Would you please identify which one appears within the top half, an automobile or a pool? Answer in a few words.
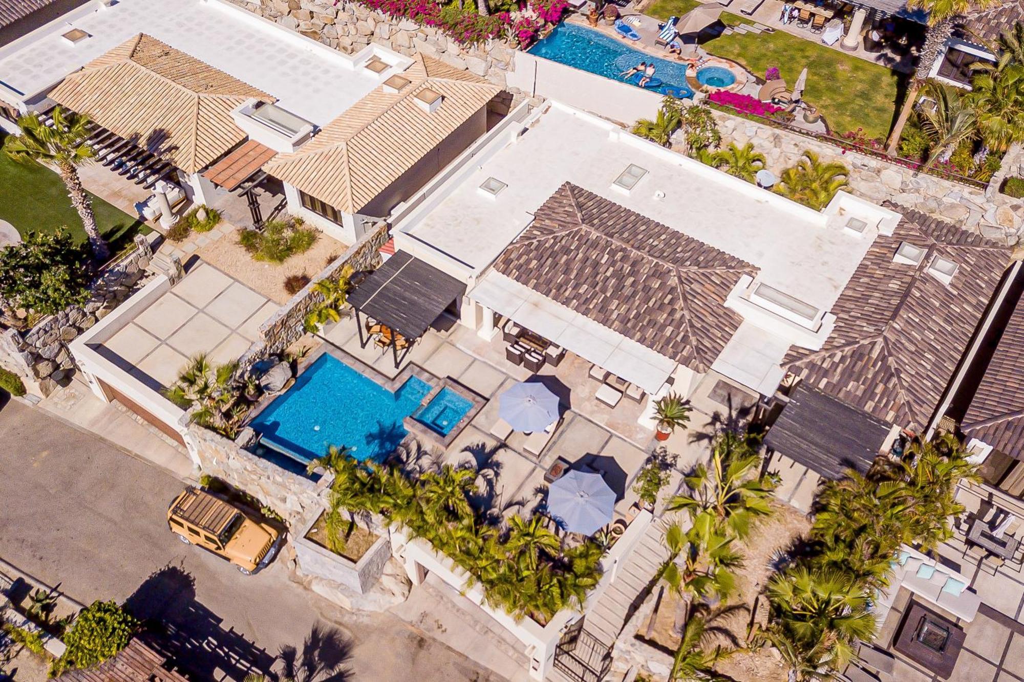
pool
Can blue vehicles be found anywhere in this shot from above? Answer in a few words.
No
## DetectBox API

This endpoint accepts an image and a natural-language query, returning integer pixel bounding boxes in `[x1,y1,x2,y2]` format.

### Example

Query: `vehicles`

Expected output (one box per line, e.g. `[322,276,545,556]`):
[169,488,281,578]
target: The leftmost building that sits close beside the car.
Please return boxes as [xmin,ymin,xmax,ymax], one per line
[65,274,214,449]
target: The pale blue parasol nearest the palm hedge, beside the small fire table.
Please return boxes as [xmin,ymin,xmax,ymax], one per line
[549,479,615,541]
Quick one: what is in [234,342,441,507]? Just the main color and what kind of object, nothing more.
blue swimming pool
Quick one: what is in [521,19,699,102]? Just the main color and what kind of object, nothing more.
blue swimming pool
